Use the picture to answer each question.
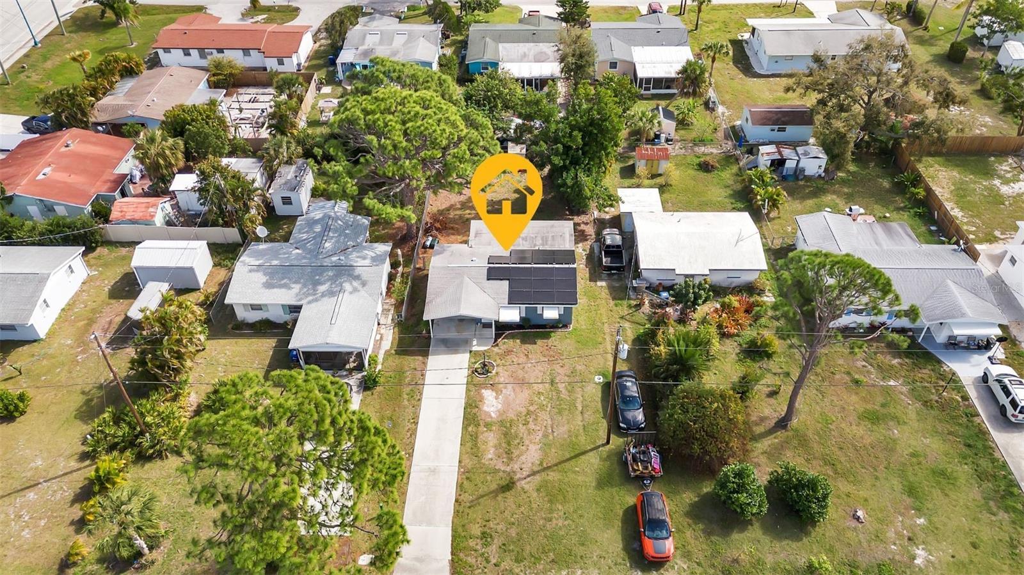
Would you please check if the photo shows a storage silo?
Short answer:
No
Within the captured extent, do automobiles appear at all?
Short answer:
Yes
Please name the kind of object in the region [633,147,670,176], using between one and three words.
shed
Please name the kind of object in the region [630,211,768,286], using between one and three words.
house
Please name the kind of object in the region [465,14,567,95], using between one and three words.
house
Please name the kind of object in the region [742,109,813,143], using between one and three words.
building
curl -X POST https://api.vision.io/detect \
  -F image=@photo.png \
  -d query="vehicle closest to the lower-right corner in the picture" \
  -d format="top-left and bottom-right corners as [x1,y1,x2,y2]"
[979,367,1024,429]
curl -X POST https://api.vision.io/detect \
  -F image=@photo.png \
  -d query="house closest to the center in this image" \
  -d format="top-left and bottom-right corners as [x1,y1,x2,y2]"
[422,220,580,337]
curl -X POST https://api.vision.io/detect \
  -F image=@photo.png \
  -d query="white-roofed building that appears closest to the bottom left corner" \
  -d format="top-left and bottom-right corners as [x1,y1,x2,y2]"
[0,247,97,343]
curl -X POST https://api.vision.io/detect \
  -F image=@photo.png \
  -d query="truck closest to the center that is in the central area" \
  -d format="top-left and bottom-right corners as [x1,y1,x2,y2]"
[599,225,629,271]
